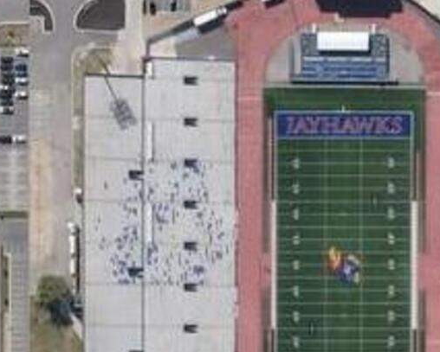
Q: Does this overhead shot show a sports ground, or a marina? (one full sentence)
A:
This looks like a sports ground.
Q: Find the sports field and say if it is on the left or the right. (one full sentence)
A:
The sports field sits on the right side.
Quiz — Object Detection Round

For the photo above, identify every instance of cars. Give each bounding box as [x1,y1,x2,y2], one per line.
[1,57,13,62]
[1,99,13,104]
[1,92,13,97]
[13,136,26,141]
[0,137,11,142]
[15,78,27,83]
[15,92,27,97]
[15,50,27,55]
[1,64,13,70]
[1,78,13,83]
[1,85,13,90]
[142,0,147,12]
[150,1,156,14]
[15,71,27,76]
[1,108,13,113]
[171,0,176,11]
